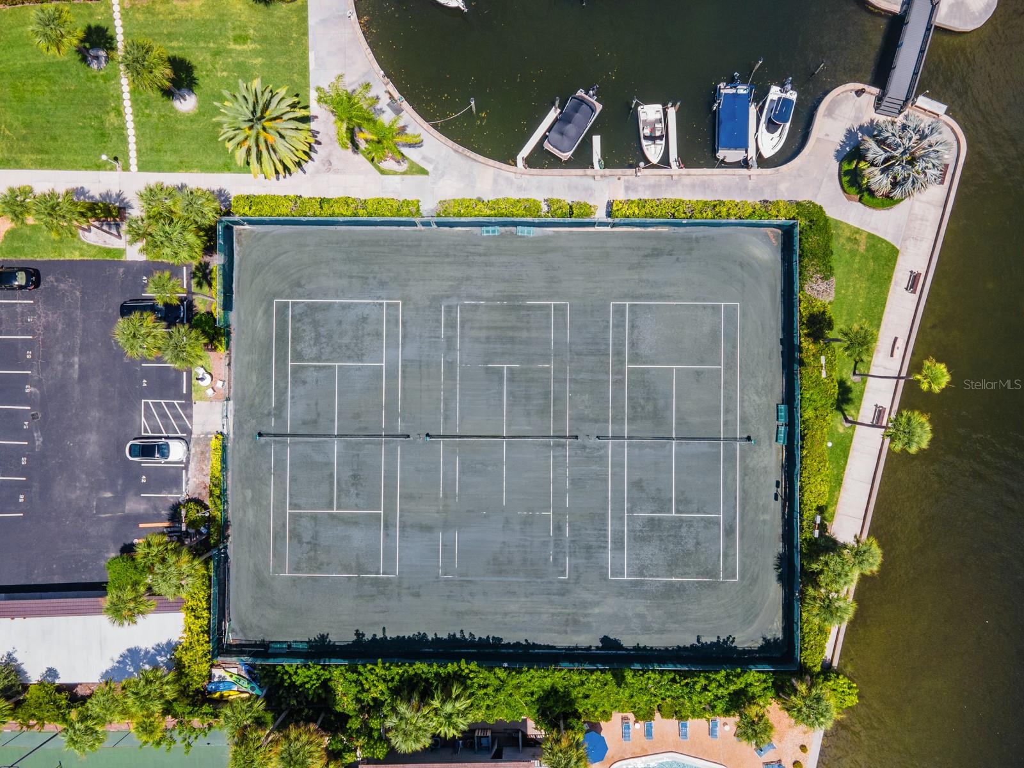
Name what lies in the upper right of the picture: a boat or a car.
boat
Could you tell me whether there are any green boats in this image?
Yes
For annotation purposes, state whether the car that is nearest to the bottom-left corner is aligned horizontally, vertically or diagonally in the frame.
horizontally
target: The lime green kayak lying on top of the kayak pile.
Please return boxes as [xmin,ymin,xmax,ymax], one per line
[222,670,262,696]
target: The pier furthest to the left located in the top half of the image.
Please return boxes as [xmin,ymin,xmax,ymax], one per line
[518,108,560,166]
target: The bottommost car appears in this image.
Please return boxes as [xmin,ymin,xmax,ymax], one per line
[127,436,187,463]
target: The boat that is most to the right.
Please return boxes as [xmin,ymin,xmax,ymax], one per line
[760,77,800,157]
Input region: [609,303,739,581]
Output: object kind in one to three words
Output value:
tennis court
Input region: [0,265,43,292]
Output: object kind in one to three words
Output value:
car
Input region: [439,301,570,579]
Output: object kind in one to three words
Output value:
tennis court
